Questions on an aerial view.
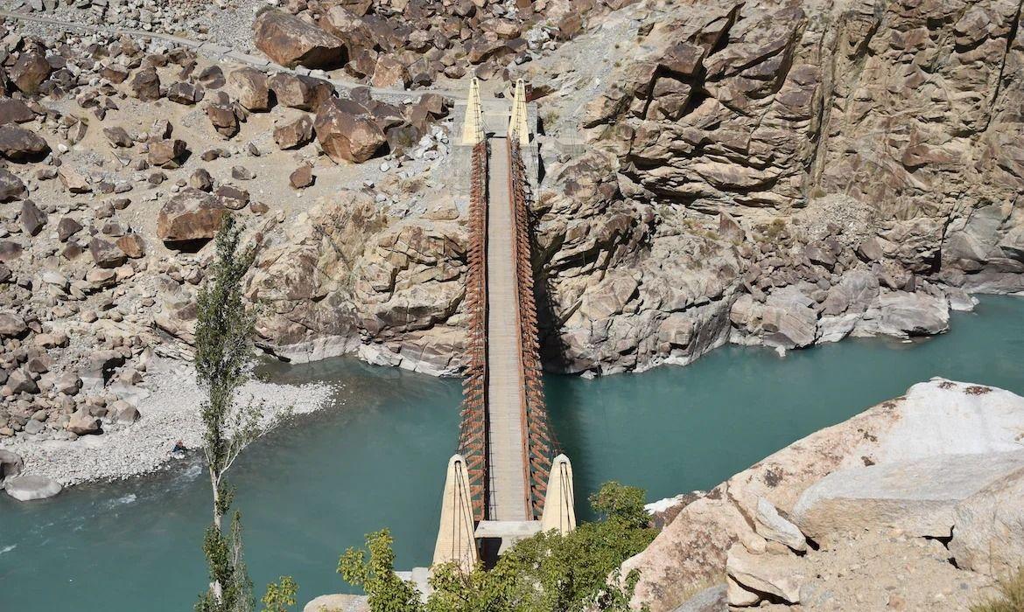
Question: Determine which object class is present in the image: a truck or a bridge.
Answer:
bridge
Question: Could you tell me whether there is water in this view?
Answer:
Yes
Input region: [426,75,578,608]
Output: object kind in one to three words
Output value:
bridge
